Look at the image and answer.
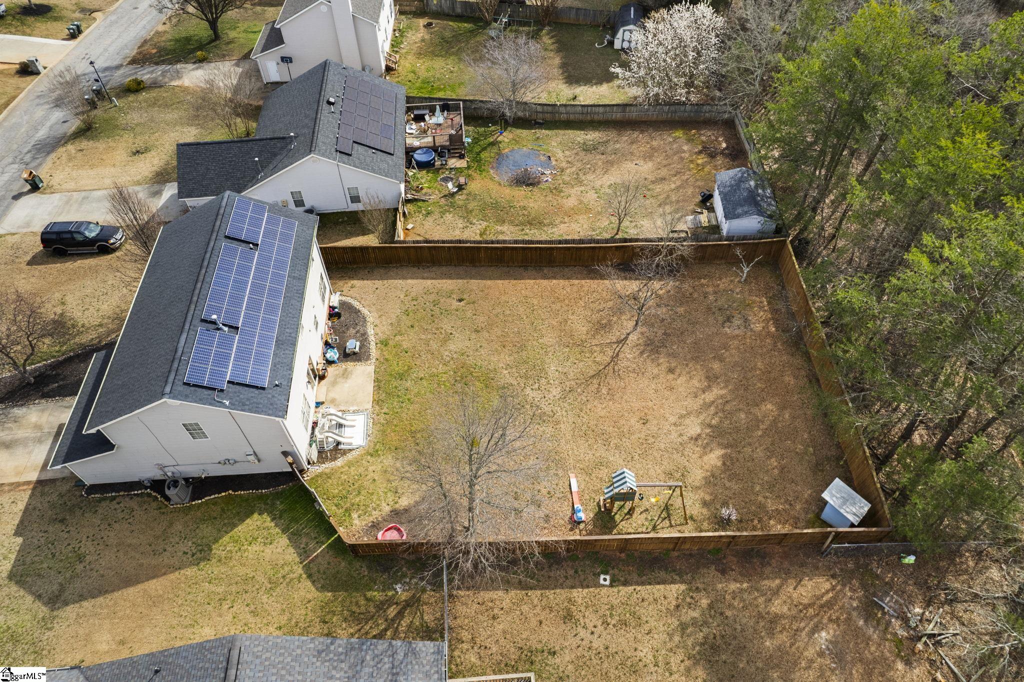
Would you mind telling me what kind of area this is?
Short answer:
residential area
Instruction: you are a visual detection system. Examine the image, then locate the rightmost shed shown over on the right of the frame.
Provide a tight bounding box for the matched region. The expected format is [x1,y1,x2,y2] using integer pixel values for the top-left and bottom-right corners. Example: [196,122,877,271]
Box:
[816,480,878,531]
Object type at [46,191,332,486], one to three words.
house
